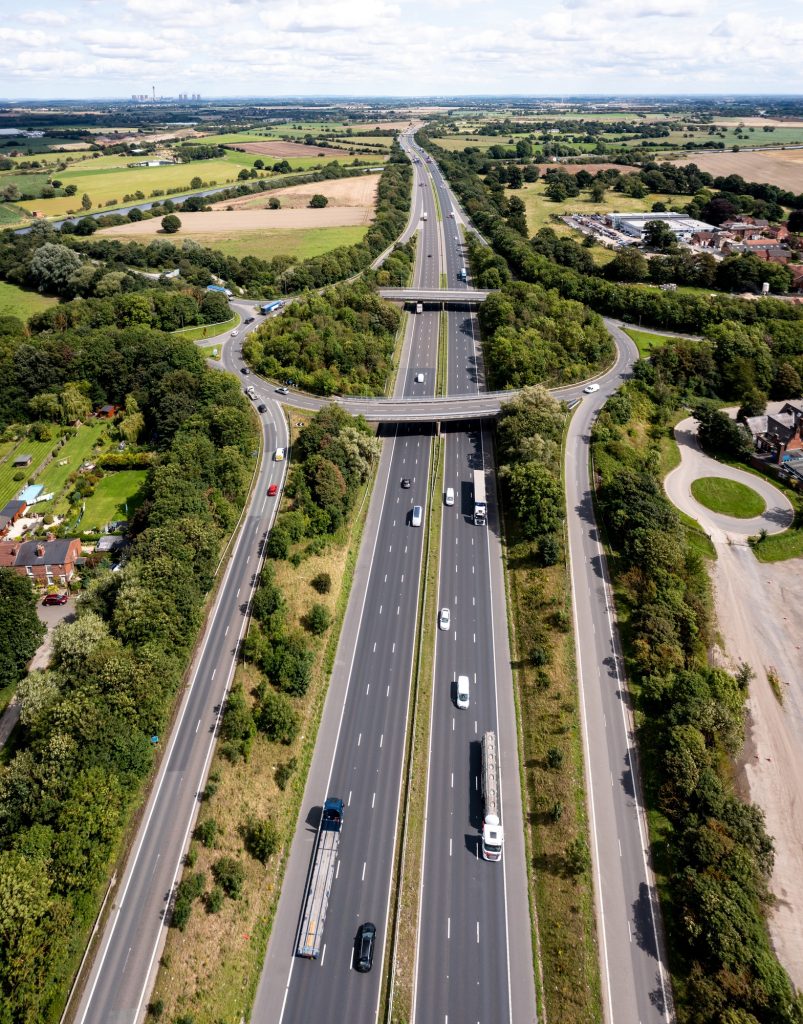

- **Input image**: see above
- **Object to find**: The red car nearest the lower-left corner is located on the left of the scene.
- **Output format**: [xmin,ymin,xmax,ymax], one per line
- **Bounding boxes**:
[41,594,65,606]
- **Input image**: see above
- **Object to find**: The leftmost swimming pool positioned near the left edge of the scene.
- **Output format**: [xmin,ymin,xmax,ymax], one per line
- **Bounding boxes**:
[16,482,43,500]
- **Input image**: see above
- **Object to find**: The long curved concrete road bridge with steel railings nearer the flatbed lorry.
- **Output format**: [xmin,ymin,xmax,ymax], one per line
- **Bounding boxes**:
[355,392,507,439]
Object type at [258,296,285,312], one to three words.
vehicle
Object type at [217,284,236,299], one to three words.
vehicle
